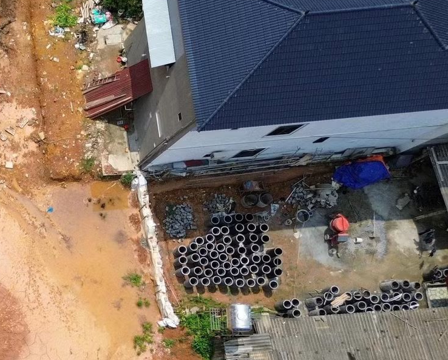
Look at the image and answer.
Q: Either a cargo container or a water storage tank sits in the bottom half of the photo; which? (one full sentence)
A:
The feature located in the bottom half of the photo is a water storage tank.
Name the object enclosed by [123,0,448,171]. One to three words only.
house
